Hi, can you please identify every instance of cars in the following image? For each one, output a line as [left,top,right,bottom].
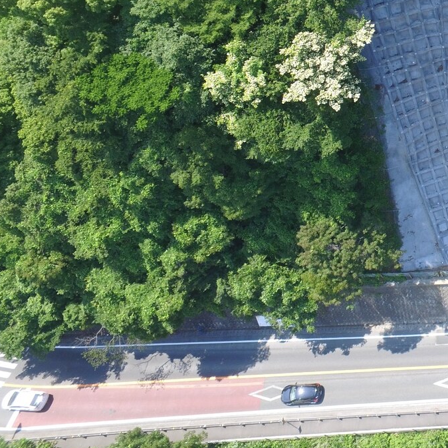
[0,388,54,413]
[281,381,325,406]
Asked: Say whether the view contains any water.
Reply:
No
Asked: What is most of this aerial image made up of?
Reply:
trees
